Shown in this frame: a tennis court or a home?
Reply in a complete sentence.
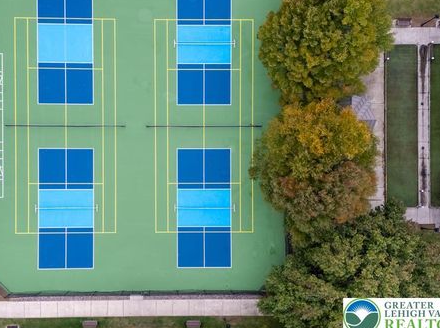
It is a tennis court that can be seen here.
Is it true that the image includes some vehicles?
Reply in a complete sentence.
No, there is no vehicle in the image.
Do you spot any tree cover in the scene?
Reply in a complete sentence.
Yes, there is tree cover in the image.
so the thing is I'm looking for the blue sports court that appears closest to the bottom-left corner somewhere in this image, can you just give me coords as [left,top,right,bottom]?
[38,148,94,269]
